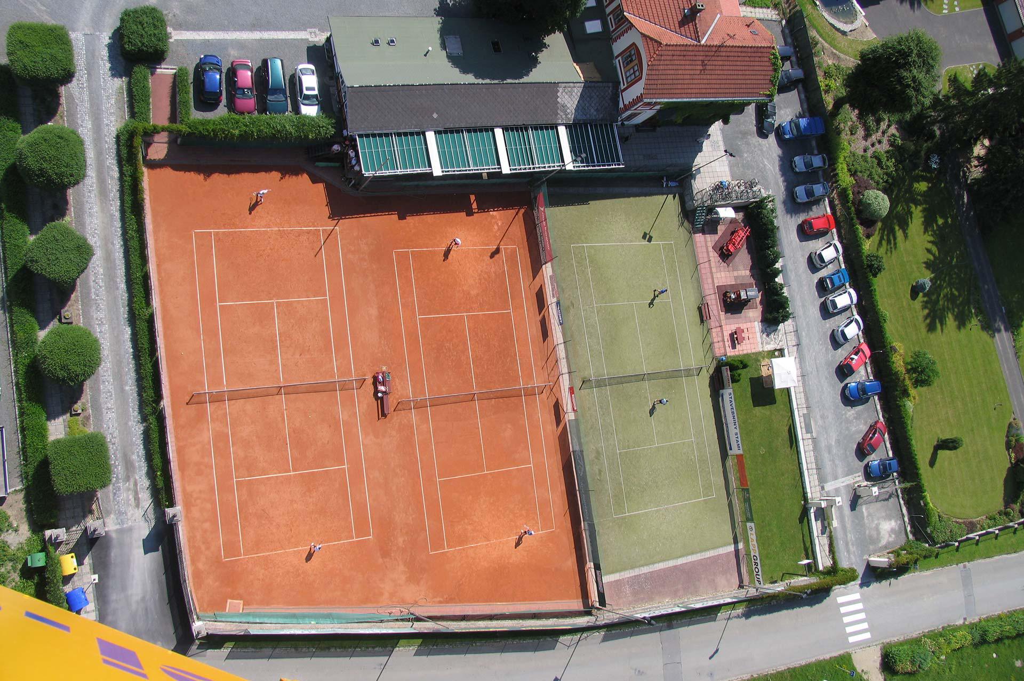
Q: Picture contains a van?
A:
Yes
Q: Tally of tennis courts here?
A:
three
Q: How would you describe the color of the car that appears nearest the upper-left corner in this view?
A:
blue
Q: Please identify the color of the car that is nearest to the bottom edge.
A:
blue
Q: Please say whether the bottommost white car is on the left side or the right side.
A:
right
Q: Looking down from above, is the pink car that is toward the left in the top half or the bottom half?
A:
top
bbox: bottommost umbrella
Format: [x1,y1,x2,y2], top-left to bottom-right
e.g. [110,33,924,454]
[767,357,797,388]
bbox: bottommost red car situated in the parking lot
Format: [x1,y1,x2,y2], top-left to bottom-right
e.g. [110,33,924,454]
[857,422,891,457]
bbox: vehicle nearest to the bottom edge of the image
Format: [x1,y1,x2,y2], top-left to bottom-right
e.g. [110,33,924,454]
[866,455,902,479]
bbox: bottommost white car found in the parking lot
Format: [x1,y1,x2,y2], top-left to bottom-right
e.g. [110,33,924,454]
[830,314,866,344]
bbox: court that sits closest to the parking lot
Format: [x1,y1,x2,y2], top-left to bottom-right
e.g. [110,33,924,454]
[541,193,736,581]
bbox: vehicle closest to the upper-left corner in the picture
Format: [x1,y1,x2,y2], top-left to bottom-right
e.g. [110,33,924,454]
[195,52,226,107]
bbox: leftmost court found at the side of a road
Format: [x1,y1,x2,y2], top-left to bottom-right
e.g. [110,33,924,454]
[146,170,401,612]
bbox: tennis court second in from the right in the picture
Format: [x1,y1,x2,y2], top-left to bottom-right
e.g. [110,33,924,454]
[356,193,587,604]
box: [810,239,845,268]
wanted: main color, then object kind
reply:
white car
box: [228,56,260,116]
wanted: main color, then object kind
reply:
pink car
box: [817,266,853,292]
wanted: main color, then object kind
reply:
blue car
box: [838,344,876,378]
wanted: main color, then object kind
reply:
red car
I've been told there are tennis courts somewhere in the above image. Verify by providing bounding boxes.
[356,193,587,604]
[541,193,736,581]
[146,170,401,612]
